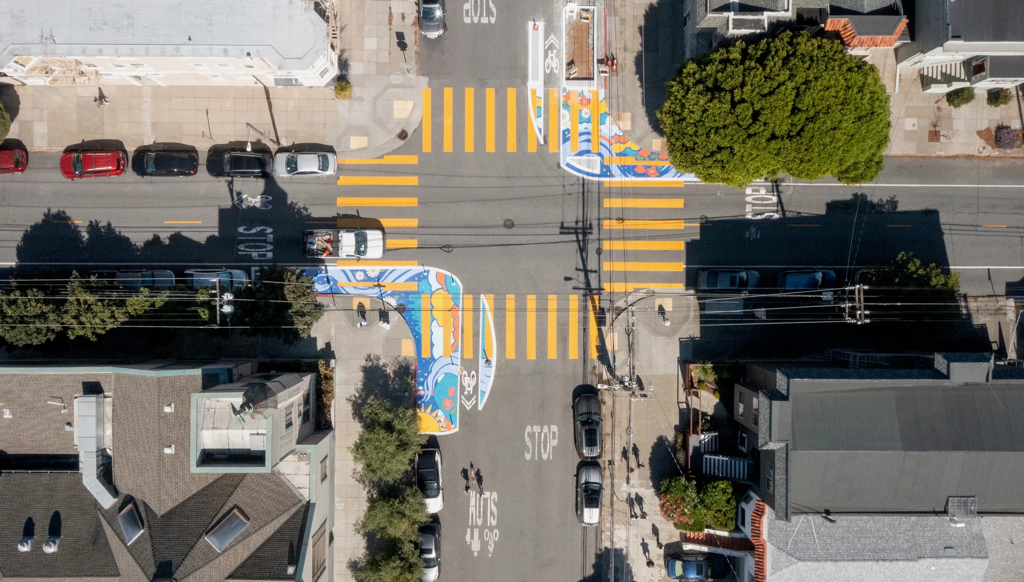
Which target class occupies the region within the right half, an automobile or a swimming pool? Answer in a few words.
automobile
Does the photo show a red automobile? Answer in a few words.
Yes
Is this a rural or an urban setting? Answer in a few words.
urban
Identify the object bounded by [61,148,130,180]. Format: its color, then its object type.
red car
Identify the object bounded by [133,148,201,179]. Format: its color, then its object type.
black car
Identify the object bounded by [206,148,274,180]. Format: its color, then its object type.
black car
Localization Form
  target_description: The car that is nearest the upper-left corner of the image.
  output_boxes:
[0,148,32,175]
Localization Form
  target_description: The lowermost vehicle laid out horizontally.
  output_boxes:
[664,550,731,582]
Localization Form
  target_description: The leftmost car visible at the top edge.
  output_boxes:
[416,0,447,43]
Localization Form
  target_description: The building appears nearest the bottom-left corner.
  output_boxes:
[0,355,336,582]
